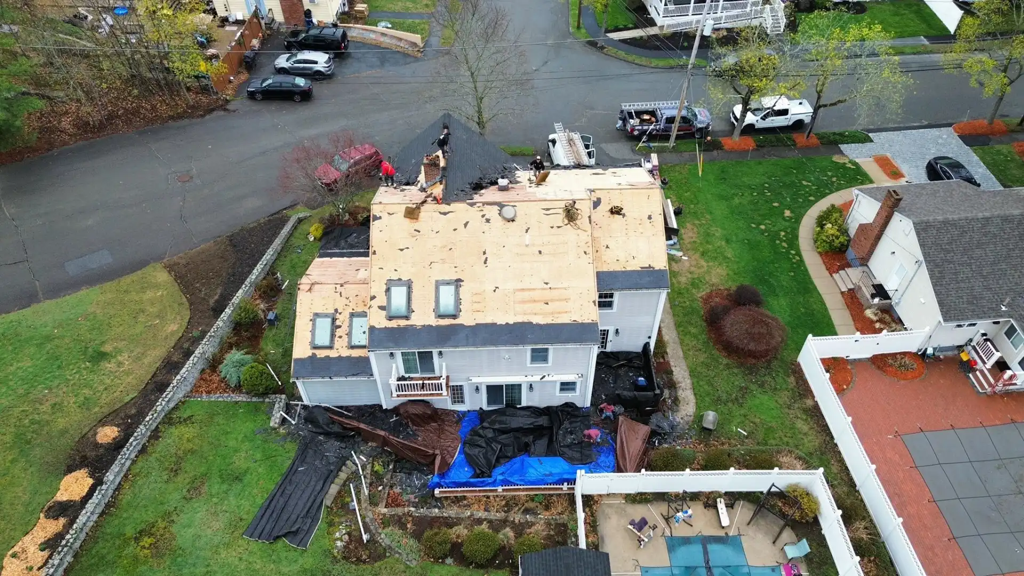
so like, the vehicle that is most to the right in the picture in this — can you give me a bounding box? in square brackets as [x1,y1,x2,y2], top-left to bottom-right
[919,152,995,181]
